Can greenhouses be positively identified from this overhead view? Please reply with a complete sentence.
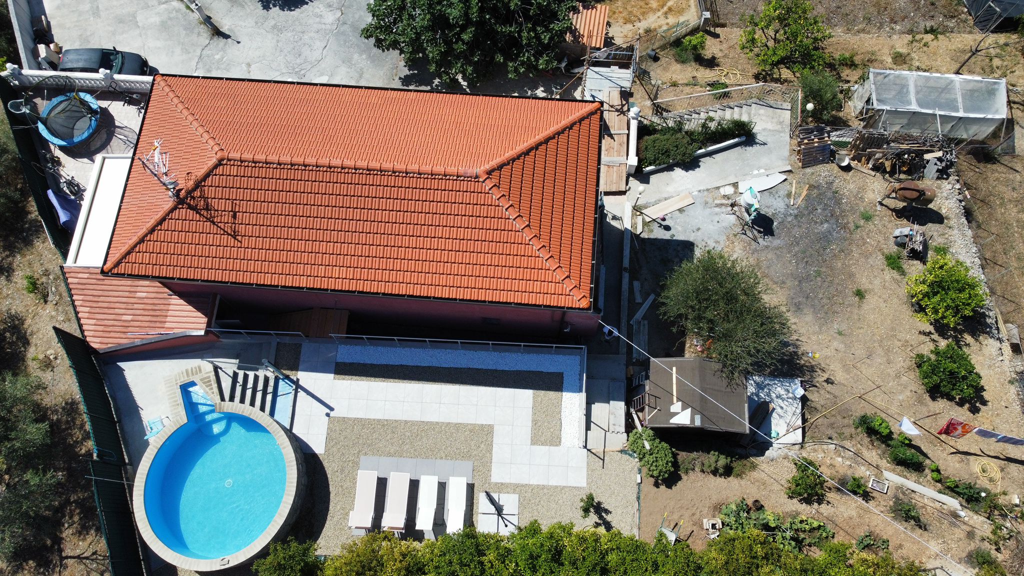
Yes, a greenhouse can be made out from above.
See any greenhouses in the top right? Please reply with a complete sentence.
Yes, a greenhouse is visible in the top right.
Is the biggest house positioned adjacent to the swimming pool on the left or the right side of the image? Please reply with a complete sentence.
The biggest house positioned adjacent to the swimming pool is on the left side of the image.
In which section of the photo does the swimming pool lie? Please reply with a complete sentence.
You can find the swimming pool in the bottom left area of the picture.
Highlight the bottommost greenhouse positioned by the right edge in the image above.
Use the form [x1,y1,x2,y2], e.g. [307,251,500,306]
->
[834,69,1007,143]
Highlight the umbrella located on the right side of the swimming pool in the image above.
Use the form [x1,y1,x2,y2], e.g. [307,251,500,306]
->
[479,491,519,533]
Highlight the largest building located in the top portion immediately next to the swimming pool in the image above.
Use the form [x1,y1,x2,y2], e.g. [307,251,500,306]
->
[97,72,607,346]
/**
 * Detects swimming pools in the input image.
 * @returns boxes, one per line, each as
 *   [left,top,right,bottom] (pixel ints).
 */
[131,366,311,572]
